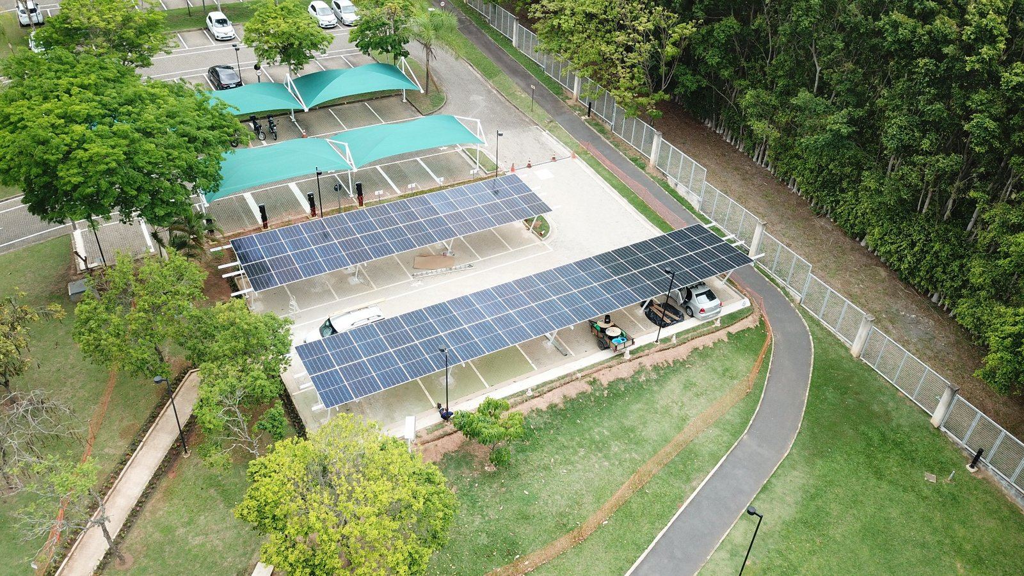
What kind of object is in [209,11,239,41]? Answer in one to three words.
car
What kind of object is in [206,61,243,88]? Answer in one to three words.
car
